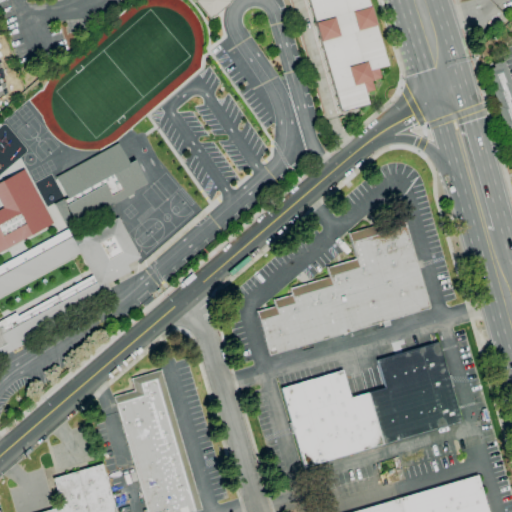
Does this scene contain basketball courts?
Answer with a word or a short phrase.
Yes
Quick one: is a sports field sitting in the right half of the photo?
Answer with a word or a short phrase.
No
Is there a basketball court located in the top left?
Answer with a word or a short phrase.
Yes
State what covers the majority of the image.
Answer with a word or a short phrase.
paved ground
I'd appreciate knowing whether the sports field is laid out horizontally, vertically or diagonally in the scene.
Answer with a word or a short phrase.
diagonally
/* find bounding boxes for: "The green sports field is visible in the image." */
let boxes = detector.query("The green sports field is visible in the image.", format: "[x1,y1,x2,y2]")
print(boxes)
[52,7,196,142]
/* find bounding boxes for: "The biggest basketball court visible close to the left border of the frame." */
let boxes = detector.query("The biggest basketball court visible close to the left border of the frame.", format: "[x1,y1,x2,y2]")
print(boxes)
[9,102,62,163]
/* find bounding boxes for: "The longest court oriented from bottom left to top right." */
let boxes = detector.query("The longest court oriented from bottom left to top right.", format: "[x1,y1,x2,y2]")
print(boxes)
[129,192,194,254]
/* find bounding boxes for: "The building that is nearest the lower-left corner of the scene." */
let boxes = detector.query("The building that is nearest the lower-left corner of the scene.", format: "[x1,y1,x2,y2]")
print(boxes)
[36,464,117,512]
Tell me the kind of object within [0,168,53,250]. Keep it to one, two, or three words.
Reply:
building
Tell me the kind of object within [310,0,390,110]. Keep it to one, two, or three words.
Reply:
building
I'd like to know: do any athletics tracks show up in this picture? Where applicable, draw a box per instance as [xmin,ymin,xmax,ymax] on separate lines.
[32,0,203,151]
